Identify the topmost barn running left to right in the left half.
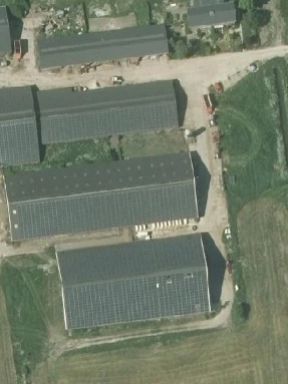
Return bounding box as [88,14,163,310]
[36,24,169,71]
